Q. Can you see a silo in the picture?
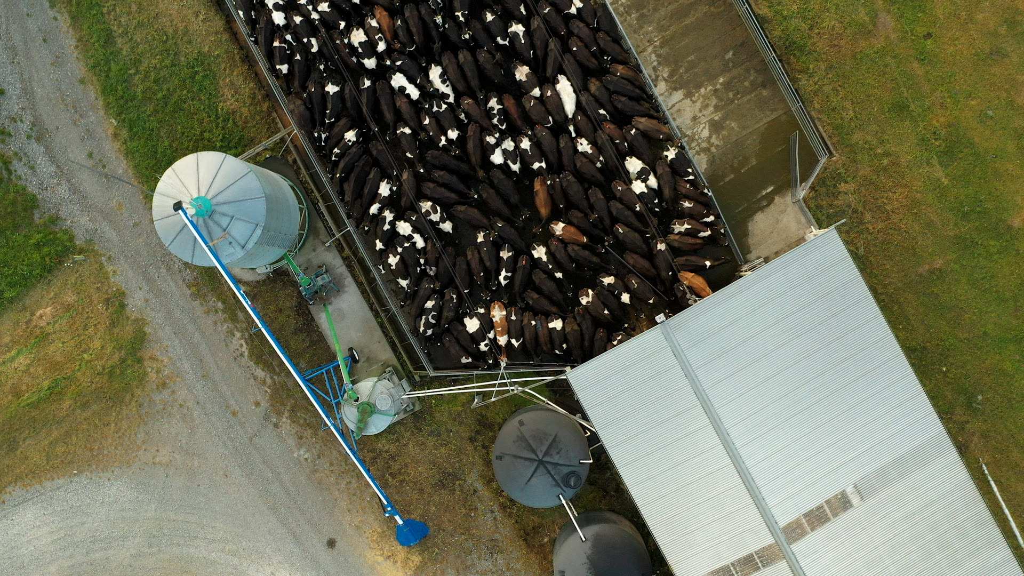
Yes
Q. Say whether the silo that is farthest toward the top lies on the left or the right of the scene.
left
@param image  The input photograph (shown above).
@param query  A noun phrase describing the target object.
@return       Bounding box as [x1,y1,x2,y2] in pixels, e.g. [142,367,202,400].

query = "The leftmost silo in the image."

[151,151,309,276]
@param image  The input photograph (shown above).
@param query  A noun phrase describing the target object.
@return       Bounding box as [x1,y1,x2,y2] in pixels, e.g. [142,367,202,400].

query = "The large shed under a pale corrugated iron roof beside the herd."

[563,226,1024,576]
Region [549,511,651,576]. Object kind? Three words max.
water tank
